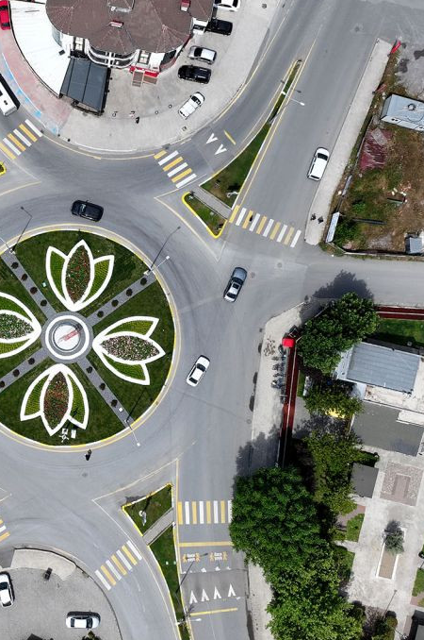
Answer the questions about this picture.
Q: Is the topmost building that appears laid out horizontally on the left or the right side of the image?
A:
left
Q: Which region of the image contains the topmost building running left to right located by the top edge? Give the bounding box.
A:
[46,0,212,78]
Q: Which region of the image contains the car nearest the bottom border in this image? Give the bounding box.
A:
[65,611,99,629]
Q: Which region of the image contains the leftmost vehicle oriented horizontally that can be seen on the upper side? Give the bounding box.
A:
[71,202,104,220]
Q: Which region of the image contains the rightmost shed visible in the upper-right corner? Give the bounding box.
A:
[379,95,424,132]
